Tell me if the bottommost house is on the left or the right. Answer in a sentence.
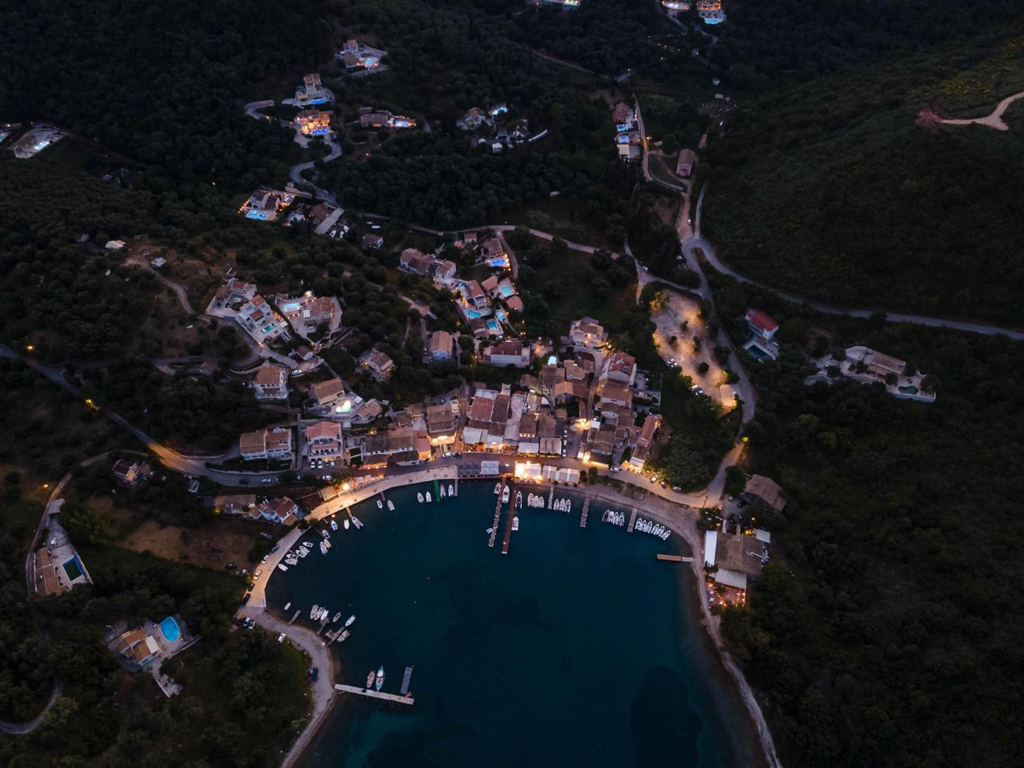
You can find the bottommost house on the left side of the picture.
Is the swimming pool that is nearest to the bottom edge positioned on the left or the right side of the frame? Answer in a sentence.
You can find the swimming pool that is nearest to the bottom edge on the left side of the picture.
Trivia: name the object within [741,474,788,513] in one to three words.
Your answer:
house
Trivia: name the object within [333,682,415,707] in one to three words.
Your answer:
pier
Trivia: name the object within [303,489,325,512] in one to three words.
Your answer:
shed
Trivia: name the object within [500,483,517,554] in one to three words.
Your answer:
pier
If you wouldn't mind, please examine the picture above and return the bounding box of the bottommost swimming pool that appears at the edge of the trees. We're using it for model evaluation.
[159,615,182,643]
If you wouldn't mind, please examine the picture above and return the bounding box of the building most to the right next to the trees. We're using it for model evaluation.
[866,350,904,381]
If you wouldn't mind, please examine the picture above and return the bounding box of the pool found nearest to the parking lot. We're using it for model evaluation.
[746,344,770,359]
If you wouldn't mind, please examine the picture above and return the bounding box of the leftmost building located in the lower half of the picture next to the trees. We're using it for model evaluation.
[36,546,74,598]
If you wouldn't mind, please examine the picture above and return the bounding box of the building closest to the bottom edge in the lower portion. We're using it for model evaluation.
[116,624,166,670]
